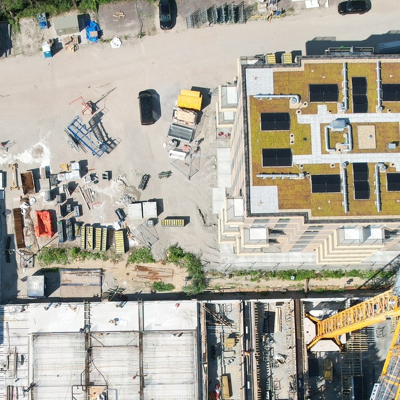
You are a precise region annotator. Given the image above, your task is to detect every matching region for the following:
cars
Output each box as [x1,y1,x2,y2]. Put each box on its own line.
[338,0,367,15]
[157,0,172,29]
[138,92,153,123]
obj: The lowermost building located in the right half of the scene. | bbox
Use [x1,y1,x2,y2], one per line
[216,49,400,264]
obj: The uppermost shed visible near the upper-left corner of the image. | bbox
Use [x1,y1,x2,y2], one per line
[55,15,81,36]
